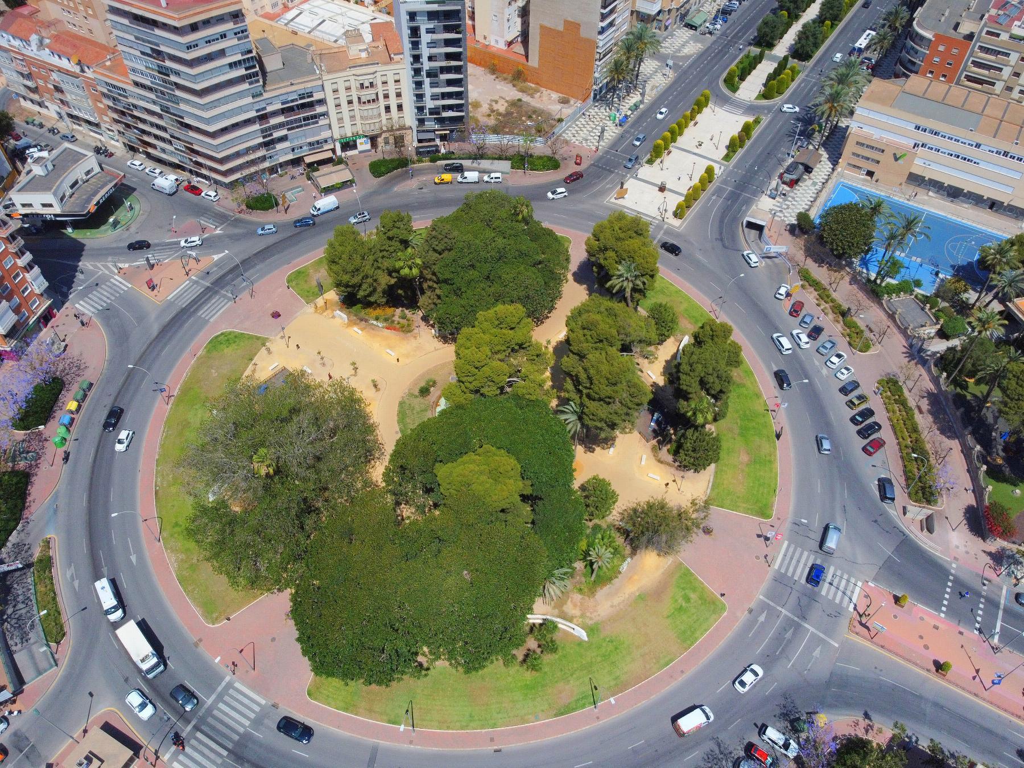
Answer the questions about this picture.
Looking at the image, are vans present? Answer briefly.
Yes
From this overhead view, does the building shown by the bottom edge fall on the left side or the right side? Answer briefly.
left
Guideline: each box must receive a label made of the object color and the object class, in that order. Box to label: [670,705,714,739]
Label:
white van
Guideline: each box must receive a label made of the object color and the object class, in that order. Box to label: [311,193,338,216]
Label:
white vehicle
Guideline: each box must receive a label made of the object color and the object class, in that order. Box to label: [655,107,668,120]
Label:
white vehicle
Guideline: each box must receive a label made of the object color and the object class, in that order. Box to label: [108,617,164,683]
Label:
white truck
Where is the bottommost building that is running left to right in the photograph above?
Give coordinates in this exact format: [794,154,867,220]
[55,727,147,768]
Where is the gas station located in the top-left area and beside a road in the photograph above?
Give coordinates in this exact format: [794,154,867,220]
[5,143,128,232]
